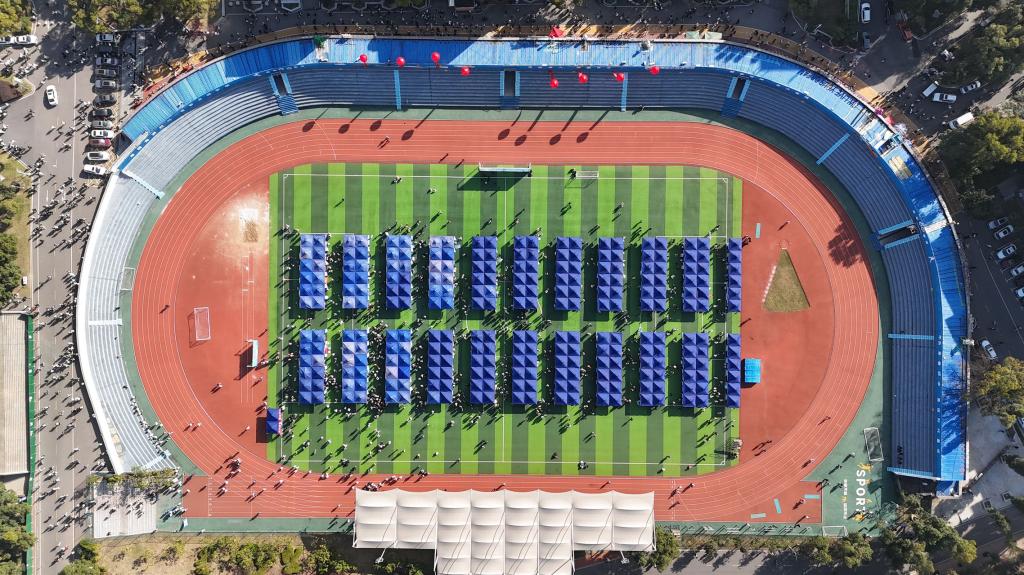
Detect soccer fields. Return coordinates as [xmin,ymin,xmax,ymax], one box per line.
[269,163,743,476]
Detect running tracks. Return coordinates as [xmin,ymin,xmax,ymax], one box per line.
[130,119,879,522]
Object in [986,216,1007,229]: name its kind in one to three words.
vehicle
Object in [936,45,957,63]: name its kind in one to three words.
vehicle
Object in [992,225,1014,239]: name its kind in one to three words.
car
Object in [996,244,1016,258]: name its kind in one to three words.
car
